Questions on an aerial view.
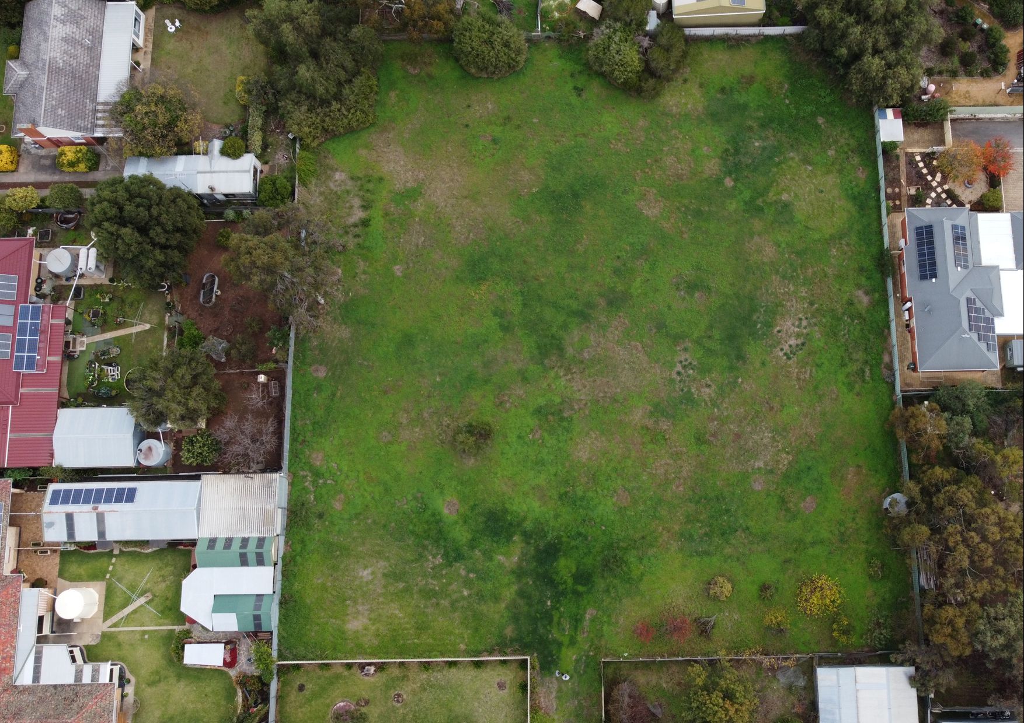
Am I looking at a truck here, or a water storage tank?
water storage tank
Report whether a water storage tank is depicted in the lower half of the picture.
Yes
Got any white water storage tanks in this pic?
Yes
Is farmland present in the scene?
Yes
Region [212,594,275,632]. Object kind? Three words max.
shed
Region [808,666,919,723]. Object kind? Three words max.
shed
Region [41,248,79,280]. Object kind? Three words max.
water tank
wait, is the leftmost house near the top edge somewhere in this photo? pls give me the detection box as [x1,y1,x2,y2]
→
[2,0,115,149]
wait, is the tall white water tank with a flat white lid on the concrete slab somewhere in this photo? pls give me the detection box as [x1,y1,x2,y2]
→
[55,590,98,622]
